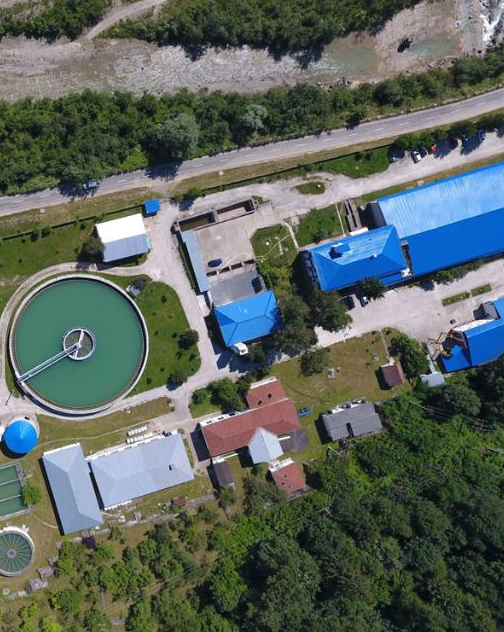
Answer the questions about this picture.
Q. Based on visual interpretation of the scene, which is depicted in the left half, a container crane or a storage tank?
storage tank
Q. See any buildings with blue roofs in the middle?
Yes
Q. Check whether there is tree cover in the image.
Yes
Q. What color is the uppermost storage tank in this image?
green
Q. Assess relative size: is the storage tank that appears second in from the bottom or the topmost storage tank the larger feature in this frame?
the topmost storage tank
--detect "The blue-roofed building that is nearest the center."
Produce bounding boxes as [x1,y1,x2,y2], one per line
[211,291,283,347]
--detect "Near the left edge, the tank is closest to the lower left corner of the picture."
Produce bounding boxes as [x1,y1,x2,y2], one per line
[0,526,34,575]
